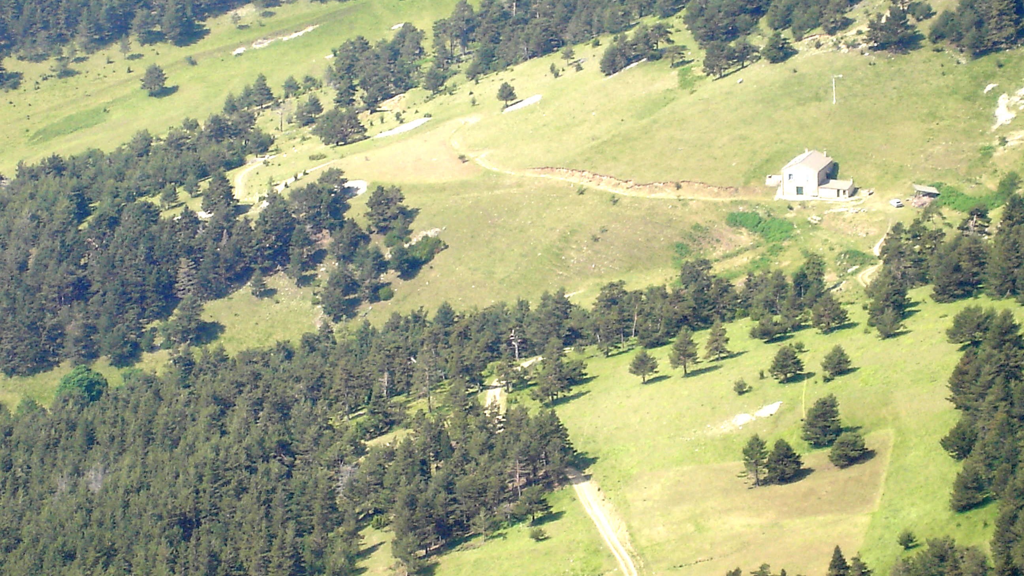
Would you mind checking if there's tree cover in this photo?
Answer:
Yes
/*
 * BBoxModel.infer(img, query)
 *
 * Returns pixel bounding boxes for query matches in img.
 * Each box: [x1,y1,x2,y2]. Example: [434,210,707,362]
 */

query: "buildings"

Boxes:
[915,183,947,202]
[770,148,855,203]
